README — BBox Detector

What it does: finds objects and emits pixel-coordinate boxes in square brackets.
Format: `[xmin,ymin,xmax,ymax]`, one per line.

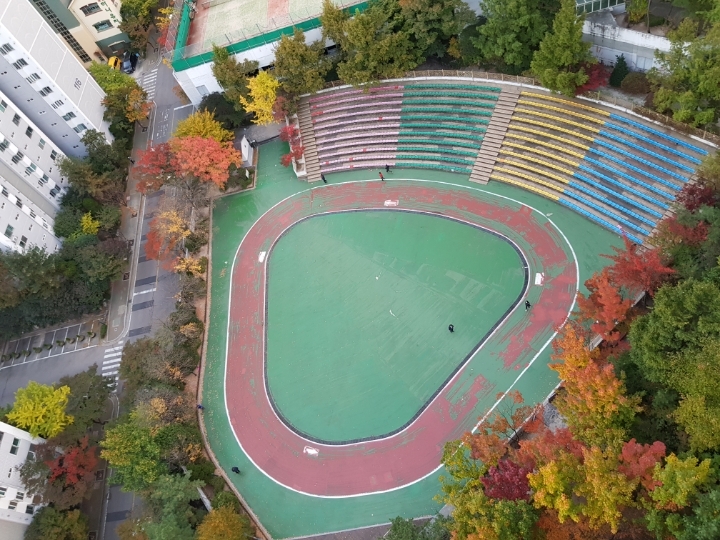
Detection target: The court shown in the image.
[177,0,352,60]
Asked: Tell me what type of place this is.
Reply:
sports ground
